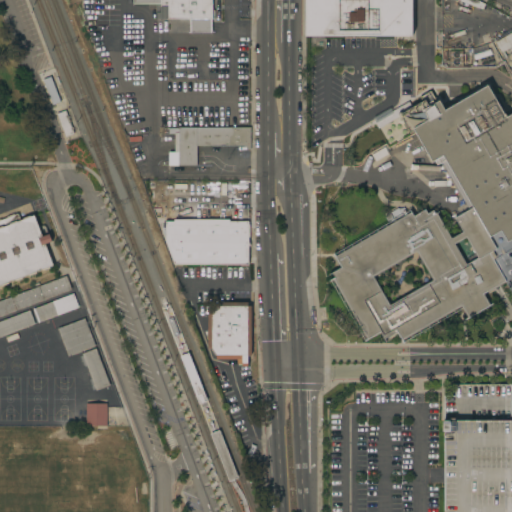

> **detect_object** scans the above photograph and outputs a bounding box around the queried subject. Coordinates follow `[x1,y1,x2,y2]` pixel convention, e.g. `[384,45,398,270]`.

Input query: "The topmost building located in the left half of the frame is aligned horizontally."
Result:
[133,0,214,33]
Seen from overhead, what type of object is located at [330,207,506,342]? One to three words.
building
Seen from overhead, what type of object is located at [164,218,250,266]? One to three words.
building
